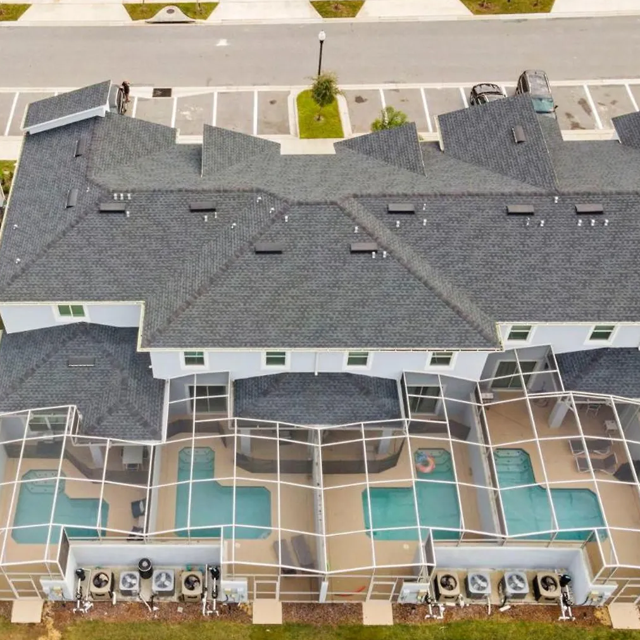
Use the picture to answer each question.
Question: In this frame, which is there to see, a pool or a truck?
pool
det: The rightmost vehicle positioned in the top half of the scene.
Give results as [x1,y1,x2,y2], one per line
[519,69,565,128]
